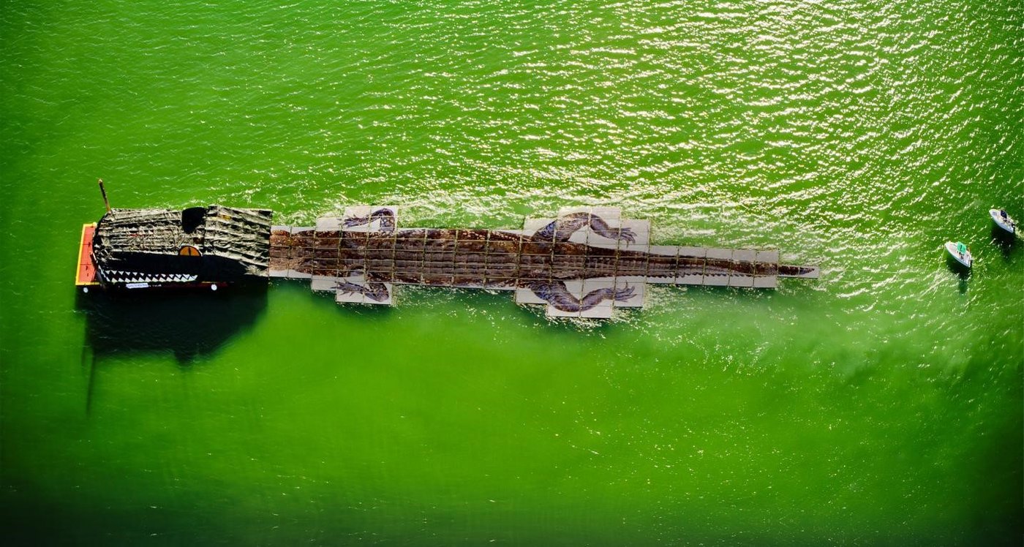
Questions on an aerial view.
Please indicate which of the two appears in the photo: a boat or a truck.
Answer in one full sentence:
The image shows a boat.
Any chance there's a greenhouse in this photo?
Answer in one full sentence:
No, I find no greenhouse anywhere in the image.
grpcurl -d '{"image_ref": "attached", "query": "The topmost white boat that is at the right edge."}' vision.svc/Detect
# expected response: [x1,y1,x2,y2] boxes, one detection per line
[990,209,1018,236]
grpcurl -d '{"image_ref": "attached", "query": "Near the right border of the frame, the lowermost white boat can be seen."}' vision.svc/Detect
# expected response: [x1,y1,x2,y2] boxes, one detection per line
[946,242,976,271]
